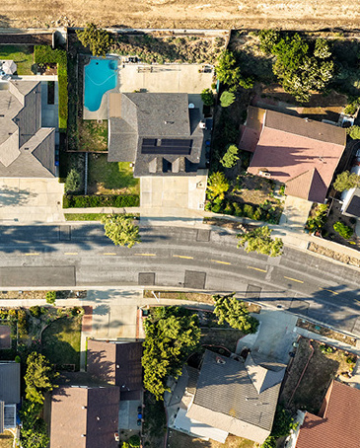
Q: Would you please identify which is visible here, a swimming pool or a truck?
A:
swimming pool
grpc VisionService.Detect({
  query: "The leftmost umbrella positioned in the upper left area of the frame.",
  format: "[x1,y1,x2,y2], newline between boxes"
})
[2,59,18,75]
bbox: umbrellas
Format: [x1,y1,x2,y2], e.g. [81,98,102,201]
[2,59,18,75]
[28,63,39,73]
